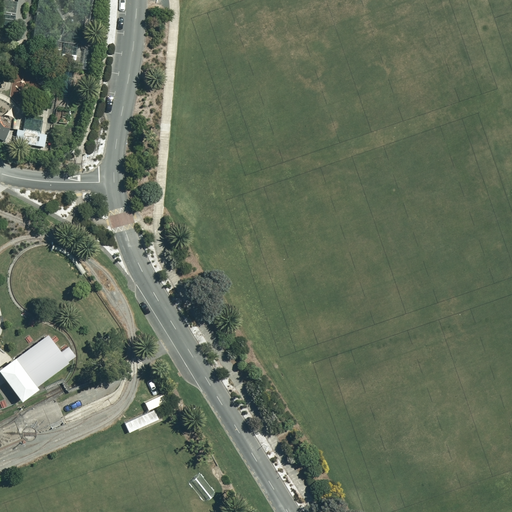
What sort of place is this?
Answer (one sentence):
The picture captures a sports ground.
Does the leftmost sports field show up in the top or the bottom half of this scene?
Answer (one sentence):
You can find the leftmost sports field in the bottom half.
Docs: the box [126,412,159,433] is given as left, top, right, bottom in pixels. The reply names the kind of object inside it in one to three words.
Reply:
shed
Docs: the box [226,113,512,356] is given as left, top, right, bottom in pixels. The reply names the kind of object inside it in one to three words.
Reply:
sports field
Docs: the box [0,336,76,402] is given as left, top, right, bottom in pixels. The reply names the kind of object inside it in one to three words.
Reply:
building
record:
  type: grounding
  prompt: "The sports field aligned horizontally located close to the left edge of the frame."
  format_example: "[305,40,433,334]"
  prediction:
[0,446,184,512]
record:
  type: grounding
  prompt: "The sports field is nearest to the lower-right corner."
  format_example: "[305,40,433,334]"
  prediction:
[312,294,512,512]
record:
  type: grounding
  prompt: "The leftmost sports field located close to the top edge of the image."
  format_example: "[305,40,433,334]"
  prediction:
[192,0,498,175]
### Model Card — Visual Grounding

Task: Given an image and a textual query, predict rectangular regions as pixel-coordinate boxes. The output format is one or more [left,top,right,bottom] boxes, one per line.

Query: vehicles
[64,400,82,412]
[147,380,158,396]
[140,302,150,315]
[118,0,125,12]
[105,96,113,111]
[116,16,124,30]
